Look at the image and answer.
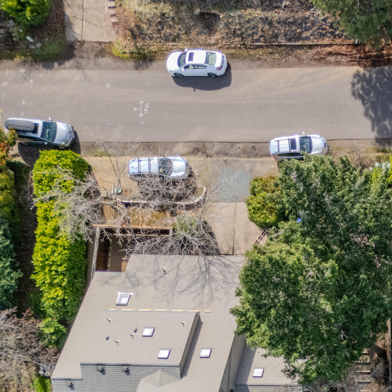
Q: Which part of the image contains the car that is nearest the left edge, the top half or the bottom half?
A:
top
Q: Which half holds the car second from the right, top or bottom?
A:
top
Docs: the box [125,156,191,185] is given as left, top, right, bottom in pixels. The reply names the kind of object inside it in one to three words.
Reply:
car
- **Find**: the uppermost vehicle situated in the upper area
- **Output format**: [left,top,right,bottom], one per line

[167,49,230,82]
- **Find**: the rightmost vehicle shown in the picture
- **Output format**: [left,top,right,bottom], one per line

[268,133,331,163]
